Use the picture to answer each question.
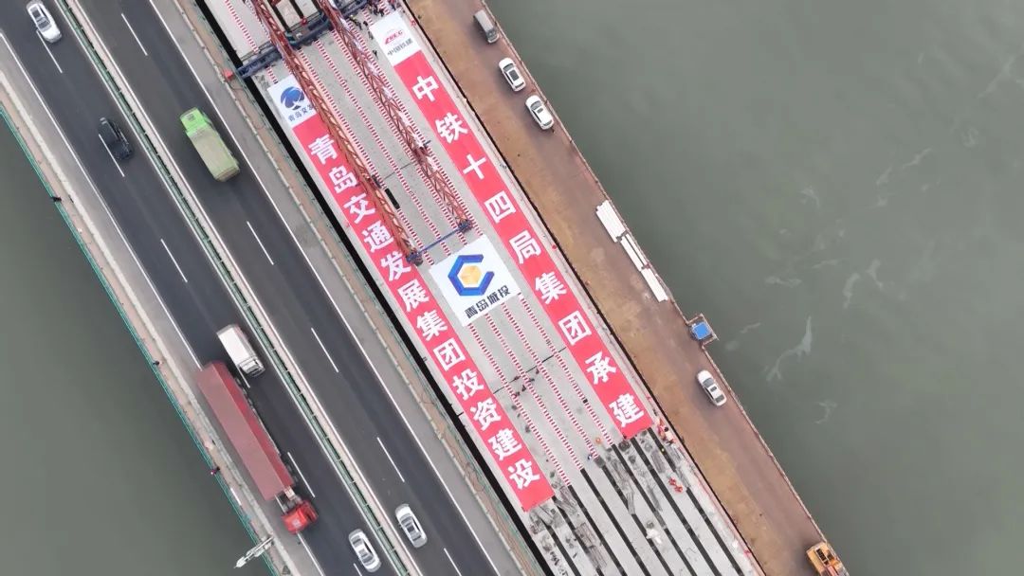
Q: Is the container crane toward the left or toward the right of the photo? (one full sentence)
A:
You can find the container crane on the left side of the picture.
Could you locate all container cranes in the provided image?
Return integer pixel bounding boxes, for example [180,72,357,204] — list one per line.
[240,0,476,267]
